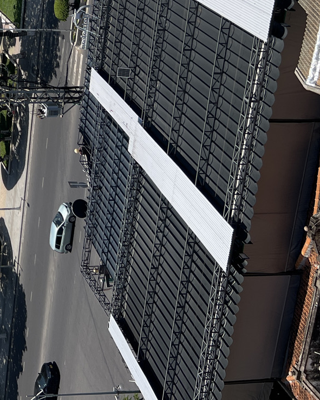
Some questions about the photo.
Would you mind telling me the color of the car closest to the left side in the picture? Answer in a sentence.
The car closest to the left side looks black in the image.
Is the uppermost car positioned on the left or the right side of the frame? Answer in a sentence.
The uppermost car appears in the left half of the scene.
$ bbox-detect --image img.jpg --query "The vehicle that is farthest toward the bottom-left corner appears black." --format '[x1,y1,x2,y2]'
[32,356,57,400]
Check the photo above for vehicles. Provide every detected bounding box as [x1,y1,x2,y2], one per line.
[44,196,74,253]
[32,356,57,400]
